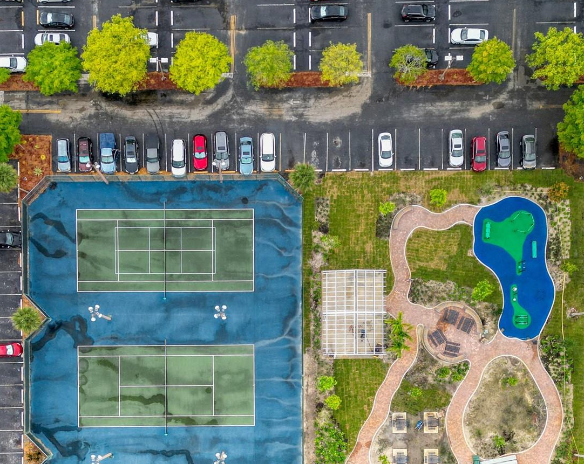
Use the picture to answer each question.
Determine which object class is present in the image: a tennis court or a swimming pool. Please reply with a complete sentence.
This aerial view contains a tennis court.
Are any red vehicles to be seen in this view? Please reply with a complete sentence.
Yes, the image includes a red vehicle.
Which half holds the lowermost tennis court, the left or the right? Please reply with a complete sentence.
The lowermost tennis court sits on the left side.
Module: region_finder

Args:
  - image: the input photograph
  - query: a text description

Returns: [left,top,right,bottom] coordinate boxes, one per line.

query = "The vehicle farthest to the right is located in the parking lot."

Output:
[519,134,538,170]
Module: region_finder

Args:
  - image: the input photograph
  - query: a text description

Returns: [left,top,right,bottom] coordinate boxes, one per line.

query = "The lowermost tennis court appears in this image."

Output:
[78,339,255,436]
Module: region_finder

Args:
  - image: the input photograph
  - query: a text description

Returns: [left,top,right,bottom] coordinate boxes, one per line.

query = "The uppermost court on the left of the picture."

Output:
[77,196,255,301]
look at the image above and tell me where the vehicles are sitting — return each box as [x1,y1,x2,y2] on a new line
[144,133,161,174]
[214,132,230,169]
[99,132,121,174]
[519,134,538,170]
[448,129,465,167]
[470,136,488,173]
[77,136,94,173]
[55,137,72,174]
[378,132,394,168]
[239,136,255,175]
[0,231,22,248]
[192,134,208,170]
[123,136,139,174]
[135,28,164,49]
[450,27,489,45]
[260,133,276,173]
[403,49,438,68]
[171,139,187,177]
[495,132,513,168]
[39,11,76,30]
[35,29,70,47]
[0,55,27,73]
[400,3,436,23]
[310,4,348,23]
[0,342,24,358]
